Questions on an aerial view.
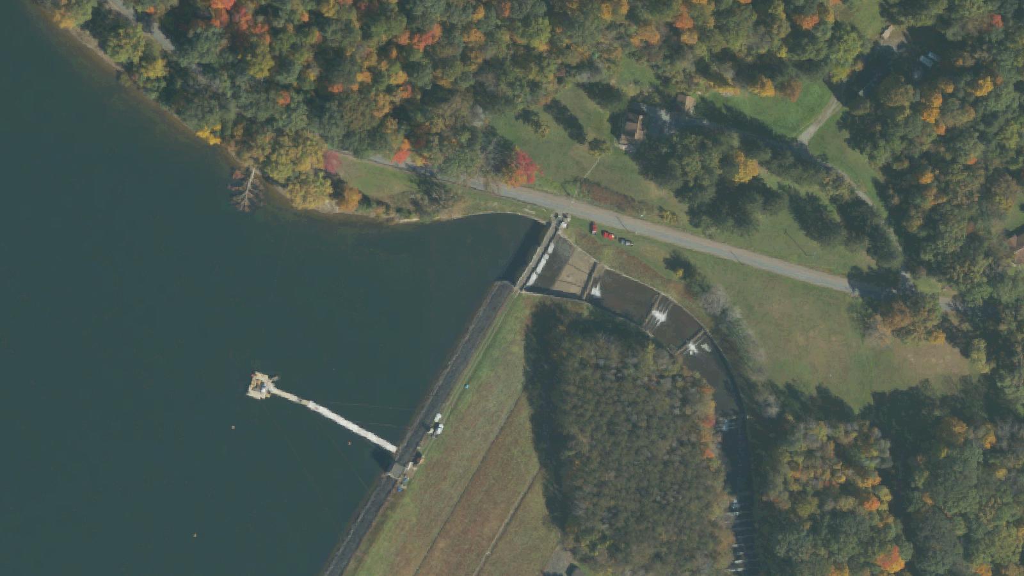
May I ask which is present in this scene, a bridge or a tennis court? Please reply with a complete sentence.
Visible in the photo is a bridge.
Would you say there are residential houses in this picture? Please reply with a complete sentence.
Yes, there is a residential house in the image.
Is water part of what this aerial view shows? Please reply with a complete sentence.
Yes, the picture does contain water.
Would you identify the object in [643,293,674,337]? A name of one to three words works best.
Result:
dam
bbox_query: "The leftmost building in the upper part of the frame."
[619,116,647,147]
